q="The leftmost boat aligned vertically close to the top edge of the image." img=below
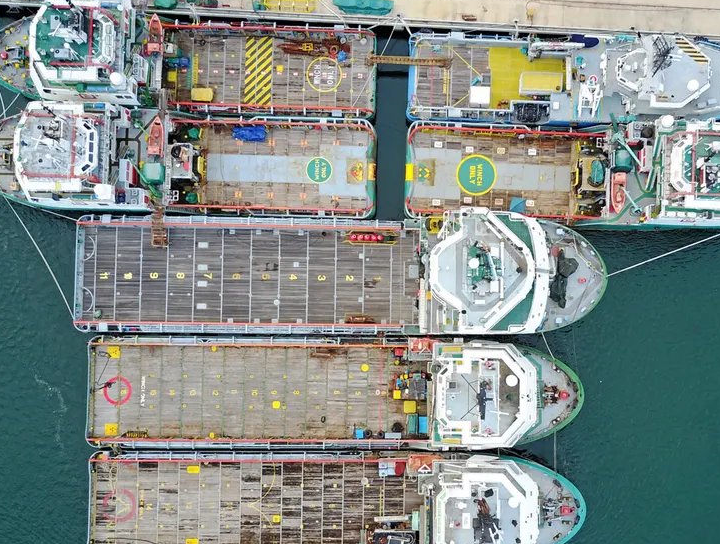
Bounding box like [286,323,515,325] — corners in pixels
[147,14,166,58]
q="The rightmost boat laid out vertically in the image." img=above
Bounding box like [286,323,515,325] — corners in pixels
[612,173,626,213]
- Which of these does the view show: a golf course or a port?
port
